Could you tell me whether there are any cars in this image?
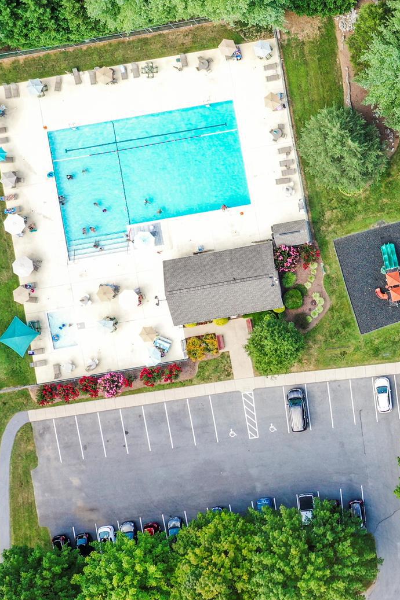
Yes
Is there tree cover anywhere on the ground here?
Yes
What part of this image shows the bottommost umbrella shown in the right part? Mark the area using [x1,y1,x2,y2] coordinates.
[263,90,282,111]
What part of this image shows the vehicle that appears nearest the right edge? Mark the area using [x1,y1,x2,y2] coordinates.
[374,376,393,412]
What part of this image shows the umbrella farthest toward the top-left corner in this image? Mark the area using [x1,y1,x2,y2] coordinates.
[26,76,46,97]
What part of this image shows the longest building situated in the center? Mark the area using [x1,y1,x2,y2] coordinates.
[159,241,284,325]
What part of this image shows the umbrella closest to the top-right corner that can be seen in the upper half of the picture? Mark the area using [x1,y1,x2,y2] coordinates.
[253,38,274,59]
